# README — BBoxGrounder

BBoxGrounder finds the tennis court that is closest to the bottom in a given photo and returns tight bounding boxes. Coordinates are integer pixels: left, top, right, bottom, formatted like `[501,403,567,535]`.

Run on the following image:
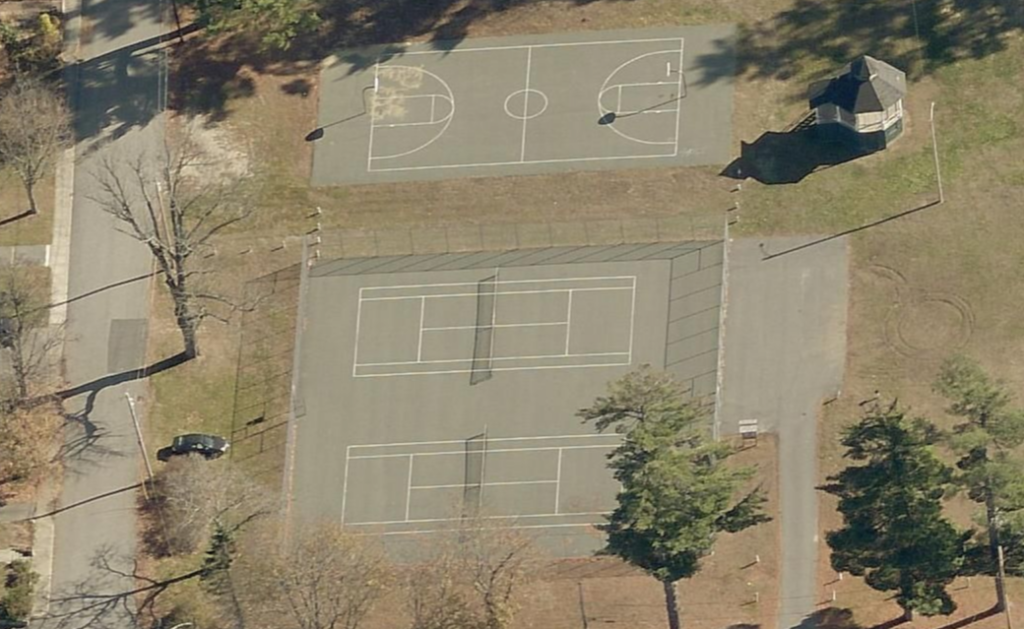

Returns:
[285,395,714,563]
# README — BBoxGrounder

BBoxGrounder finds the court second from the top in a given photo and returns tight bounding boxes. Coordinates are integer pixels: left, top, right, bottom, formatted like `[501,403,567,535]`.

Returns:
[296,240,722,413]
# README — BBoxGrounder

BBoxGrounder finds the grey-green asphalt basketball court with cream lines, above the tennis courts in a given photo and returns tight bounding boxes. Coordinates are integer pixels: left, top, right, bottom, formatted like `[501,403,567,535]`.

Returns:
[311,24,734,185]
